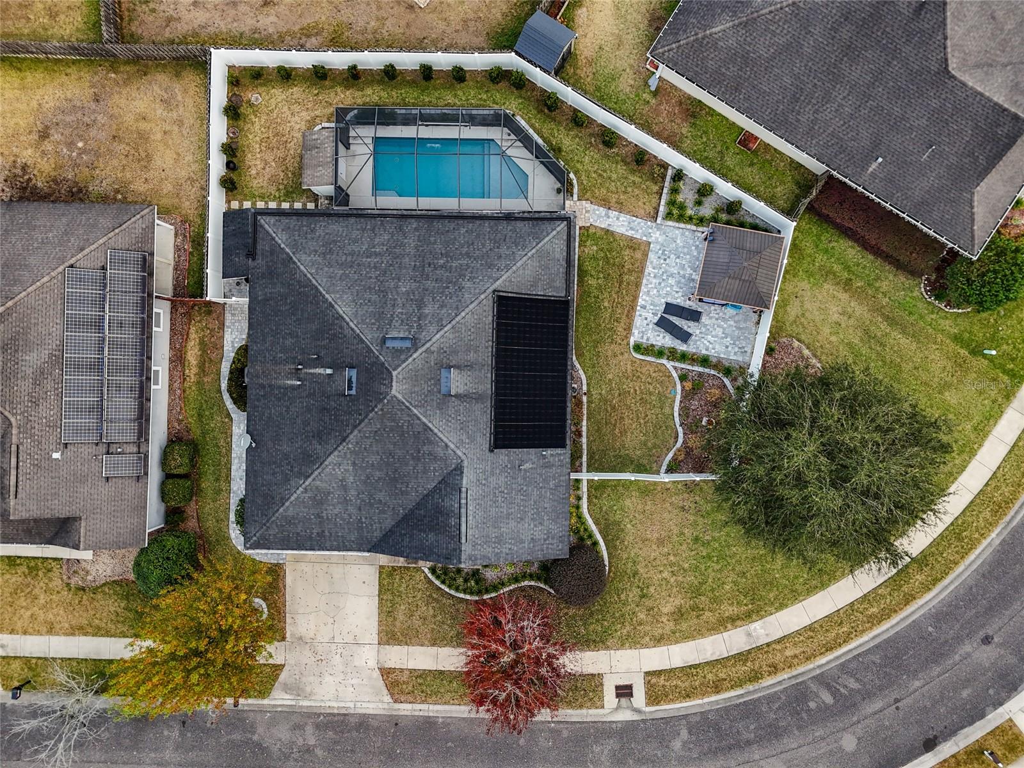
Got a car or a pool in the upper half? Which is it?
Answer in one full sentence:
You can see a pool in the upper half.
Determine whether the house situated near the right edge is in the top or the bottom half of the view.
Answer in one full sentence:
You can find the house situated near the right edge in the top half.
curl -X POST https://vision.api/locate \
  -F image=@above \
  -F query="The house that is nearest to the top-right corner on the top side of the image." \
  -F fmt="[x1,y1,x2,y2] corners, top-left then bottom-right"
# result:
[647,0,1024,260]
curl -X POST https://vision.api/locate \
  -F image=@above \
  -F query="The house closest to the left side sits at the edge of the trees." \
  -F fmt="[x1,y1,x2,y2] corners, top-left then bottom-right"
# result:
[0,202,176,549]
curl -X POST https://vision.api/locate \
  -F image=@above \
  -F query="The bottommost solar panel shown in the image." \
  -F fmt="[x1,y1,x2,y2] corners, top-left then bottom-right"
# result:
[103,454,143,476]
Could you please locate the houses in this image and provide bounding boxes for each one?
[221,209,575,565]
[0,202,176,549]
[647,0,1024,260]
